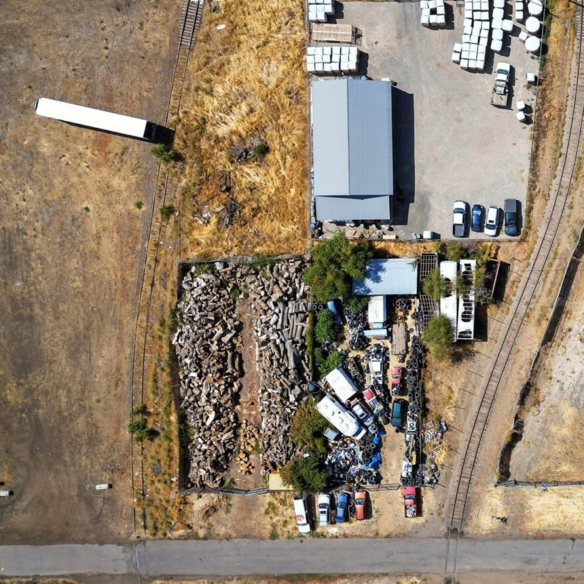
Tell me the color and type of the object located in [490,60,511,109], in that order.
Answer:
white vehicle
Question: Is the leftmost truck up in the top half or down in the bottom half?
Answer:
top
